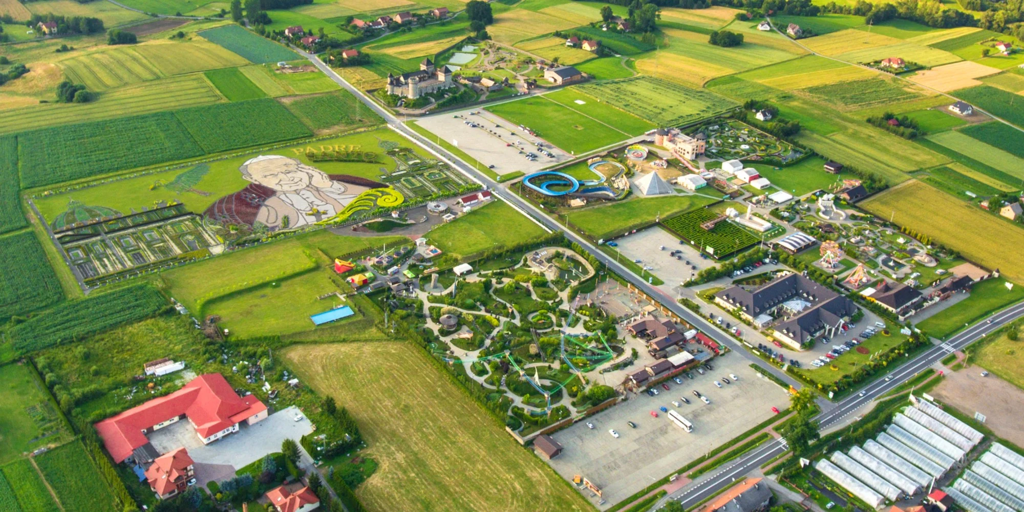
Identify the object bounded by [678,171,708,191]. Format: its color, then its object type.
white tent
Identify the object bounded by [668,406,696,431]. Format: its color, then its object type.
white bus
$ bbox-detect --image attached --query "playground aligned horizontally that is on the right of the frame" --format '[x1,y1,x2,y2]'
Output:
[577,278,684,324]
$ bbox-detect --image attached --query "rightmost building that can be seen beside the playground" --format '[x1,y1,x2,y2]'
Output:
[714,268,867,350]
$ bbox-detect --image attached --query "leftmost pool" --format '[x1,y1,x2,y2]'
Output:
[309,303,355,325]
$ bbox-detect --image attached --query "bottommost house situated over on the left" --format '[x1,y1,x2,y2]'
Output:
[265,483,318,512]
